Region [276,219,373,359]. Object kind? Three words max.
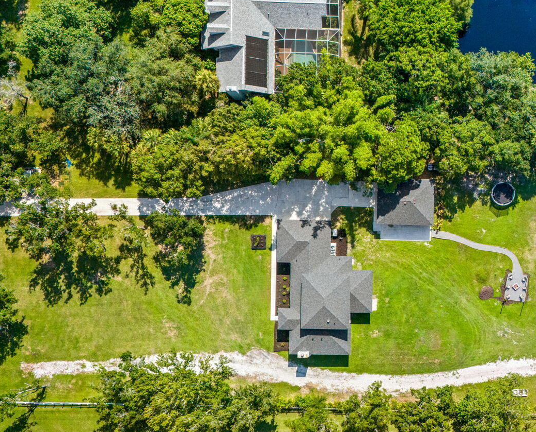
house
